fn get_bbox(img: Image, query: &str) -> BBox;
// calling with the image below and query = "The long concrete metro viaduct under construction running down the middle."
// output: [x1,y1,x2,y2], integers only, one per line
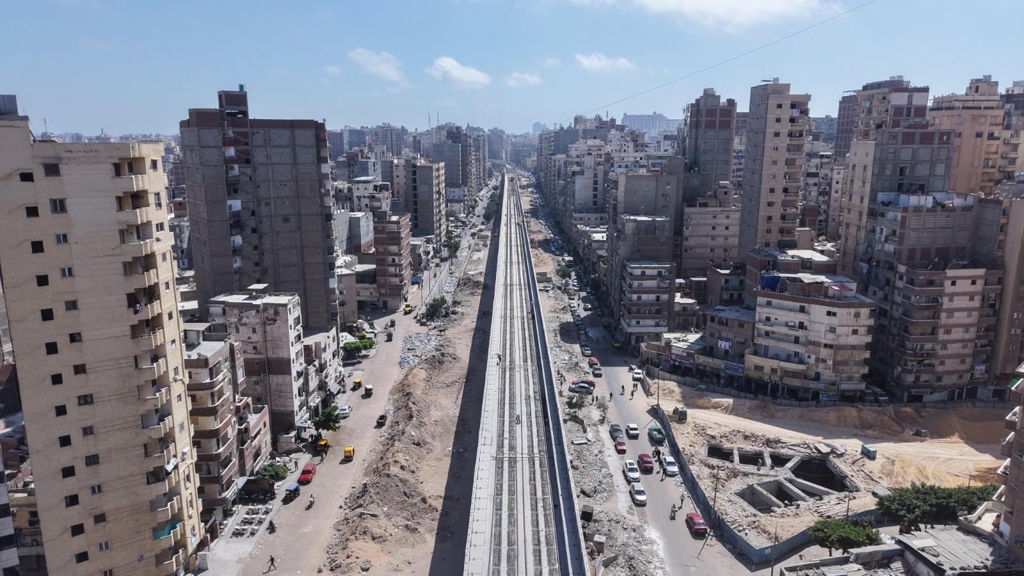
[463,161,591,576]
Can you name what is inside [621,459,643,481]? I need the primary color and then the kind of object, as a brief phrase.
white car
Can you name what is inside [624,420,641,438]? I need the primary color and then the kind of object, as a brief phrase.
white car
